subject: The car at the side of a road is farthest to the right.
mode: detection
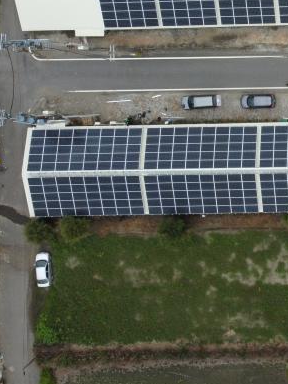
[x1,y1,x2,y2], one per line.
[241,93,276,110]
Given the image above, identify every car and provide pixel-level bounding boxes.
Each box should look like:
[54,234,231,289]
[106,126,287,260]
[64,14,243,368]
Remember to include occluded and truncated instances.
[183,93,222,110]
[241,93,276,110]
[33,250,53,288]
